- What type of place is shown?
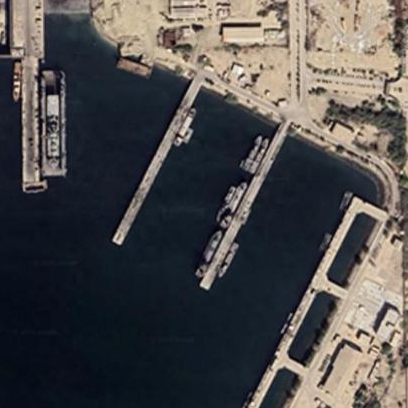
port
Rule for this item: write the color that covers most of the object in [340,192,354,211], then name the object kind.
gray boat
